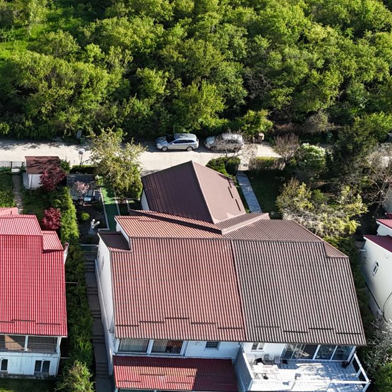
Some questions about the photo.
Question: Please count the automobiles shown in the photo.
2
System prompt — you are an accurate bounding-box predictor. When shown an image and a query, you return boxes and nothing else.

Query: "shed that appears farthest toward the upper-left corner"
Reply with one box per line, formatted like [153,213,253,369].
[27,149,60,188]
